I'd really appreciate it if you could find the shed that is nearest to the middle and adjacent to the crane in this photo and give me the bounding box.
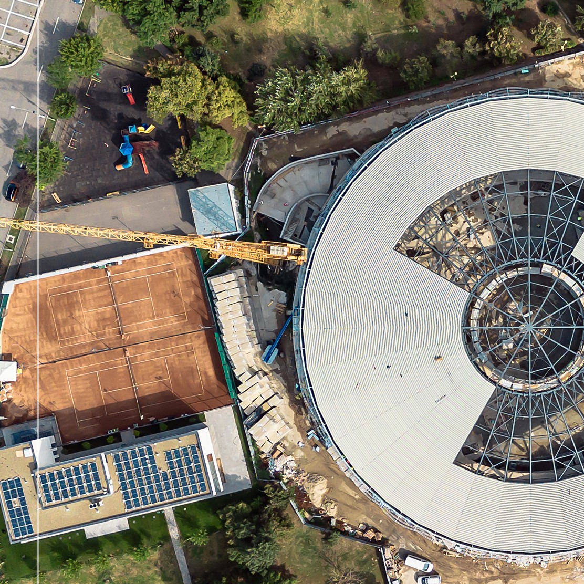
[188,183,243,237]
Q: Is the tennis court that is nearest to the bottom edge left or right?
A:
left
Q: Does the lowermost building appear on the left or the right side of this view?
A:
left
